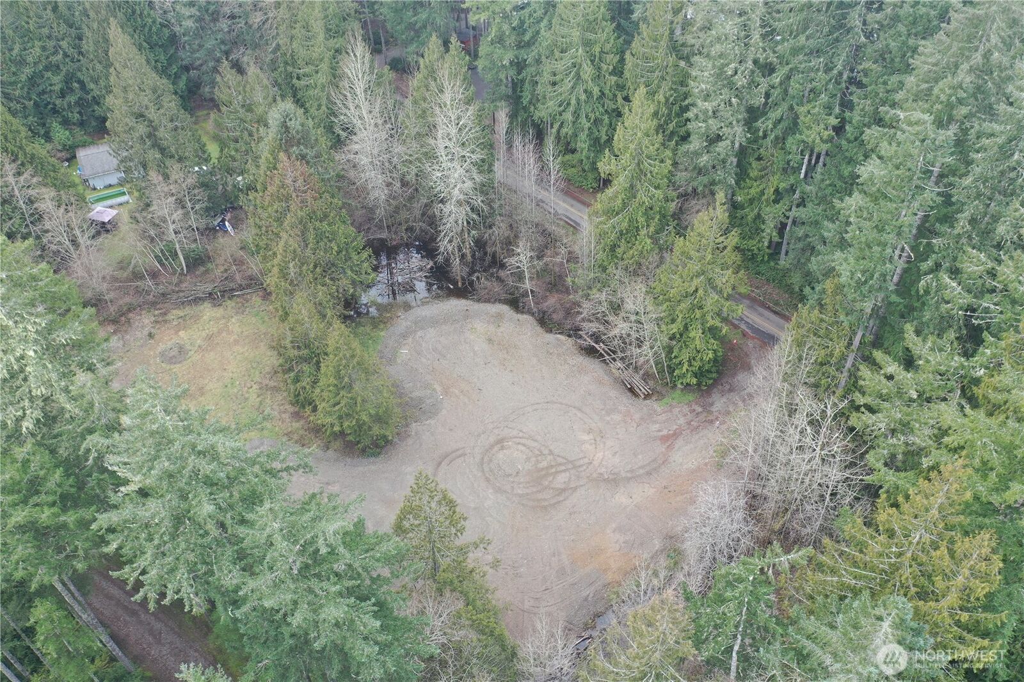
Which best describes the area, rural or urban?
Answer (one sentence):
The land in this view is best described as rural.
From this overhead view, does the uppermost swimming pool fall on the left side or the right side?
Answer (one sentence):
The uppermost swimming pool is on the left side of the image.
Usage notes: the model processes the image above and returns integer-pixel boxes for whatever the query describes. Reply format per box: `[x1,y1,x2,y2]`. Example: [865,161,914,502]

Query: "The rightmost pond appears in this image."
[354,236,633,393]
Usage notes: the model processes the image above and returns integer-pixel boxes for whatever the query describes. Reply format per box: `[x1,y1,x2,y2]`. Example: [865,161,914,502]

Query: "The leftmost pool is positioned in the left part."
[87,188,129,209]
